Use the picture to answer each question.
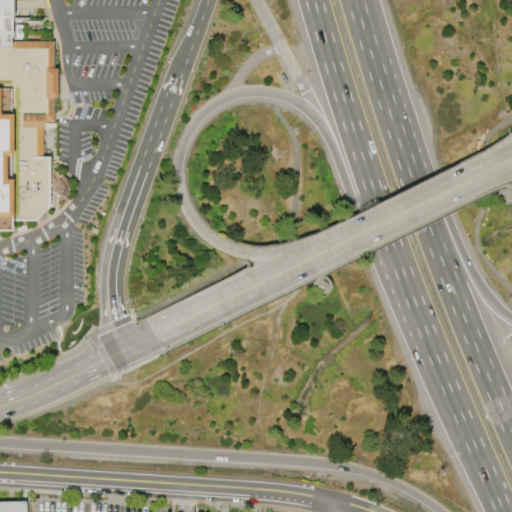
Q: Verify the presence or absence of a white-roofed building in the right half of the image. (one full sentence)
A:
No, no white-roofed building appears in the right half of the image.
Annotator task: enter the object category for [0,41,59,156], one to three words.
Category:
building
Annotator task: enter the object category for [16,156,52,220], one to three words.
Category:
building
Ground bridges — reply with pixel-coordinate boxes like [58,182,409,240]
[148,134,512,352]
